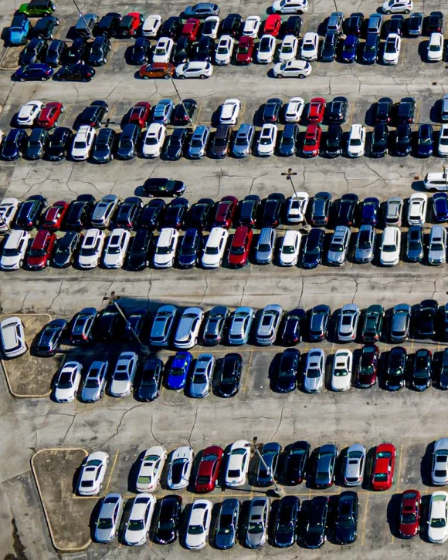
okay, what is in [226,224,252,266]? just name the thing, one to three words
car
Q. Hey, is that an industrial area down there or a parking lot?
parking lot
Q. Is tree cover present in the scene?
No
